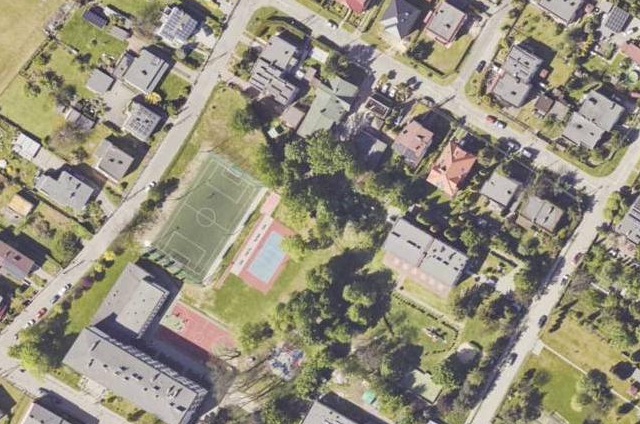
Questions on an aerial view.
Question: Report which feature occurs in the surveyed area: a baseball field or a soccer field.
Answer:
soccer field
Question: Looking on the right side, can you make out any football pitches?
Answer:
No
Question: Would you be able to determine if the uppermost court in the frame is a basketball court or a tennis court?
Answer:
basketball court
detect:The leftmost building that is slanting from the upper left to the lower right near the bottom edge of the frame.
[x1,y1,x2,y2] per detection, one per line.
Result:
[65,324,202,424]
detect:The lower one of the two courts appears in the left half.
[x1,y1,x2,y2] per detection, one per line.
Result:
[155,302,235,367]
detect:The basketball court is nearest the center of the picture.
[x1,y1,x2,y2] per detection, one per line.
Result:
[240,220,289,294]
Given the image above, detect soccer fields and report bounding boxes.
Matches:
[141,152,264,283]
